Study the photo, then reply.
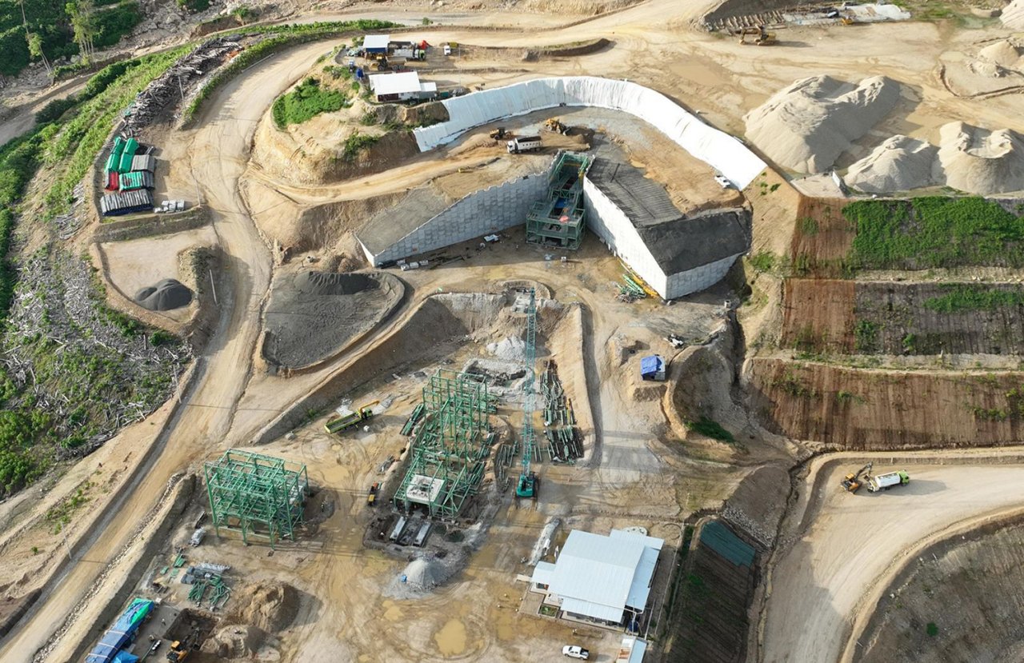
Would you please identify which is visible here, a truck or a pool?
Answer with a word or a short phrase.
truck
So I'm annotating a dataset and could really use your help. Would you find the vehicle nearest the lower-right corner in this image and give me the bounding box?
[867,468,913,492]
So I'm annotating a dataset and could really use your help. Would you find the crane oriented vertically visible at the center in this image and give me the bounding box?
[514,284,543,501]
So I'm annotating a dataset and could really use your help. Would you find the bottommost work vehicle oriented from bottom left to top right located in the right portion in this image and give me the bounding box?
[843,447,875,491]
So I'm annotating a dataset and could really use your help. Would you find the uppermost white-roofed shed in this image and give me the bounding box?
[362,34,389,63]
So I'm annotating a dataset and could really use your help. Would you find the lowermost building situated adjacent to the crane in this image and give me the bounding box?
[528,529,664,632]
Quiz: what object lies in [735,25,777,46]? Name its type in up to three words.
work vehicle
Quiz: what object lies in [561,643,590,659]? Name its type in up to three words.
vehicle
